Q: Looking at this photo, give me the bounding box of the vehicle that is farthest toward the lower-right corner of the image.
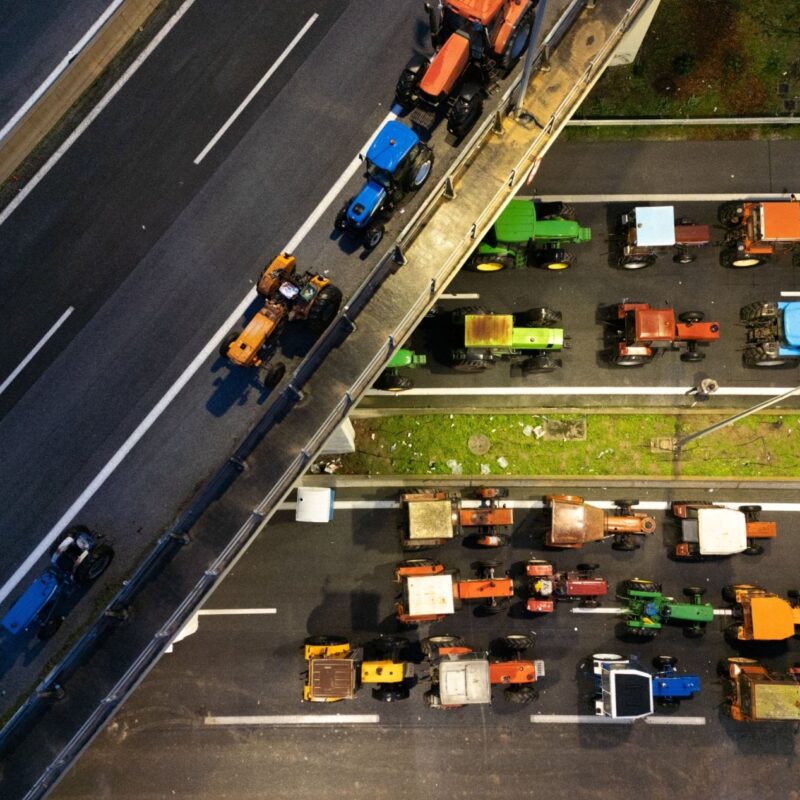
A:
[704,654,800,728]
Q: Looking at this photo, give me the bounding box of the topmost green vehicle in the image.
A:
[466,194,589,280]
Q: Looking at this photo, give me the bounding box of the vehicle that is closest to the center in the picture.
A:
[377,334,426,395]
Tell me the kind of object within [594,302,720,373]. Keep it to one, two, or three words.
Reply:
work vehicle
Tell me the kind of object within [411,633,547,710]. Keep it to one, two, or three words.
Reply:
work vehicle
